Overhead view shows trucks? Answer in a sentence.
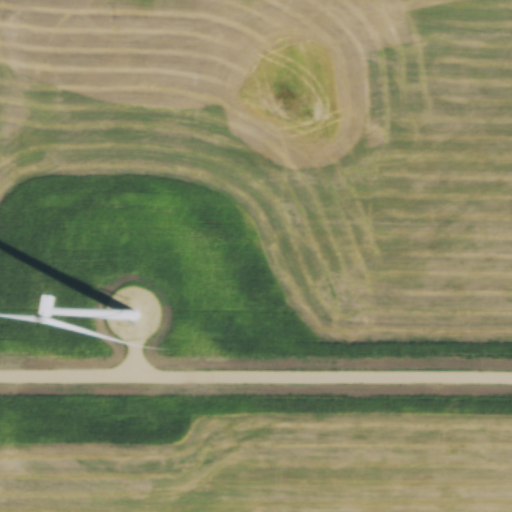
No, the scene contains no truck.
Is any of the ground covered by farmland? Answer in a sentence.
Yes, there is farmland in the image.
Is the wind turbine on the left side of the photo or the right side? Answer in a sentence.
It is on the left.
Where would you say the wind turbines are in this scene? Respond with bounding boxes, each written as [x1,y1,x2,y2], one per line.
[0,294,166,350]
